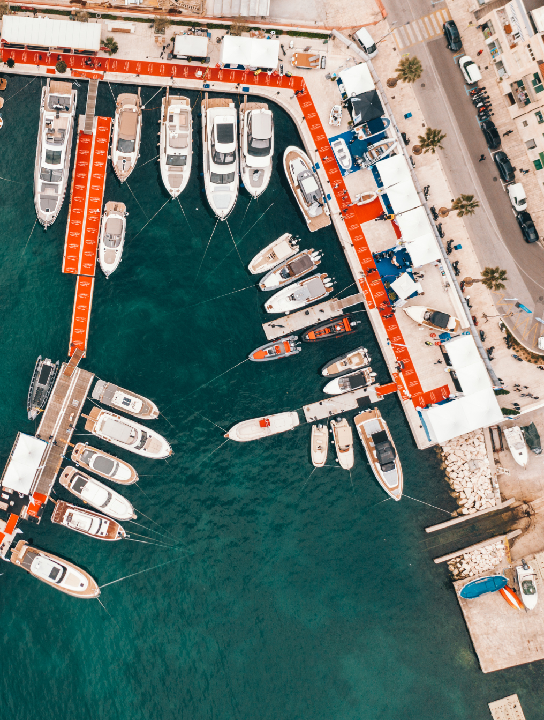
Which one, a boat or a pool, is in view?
boat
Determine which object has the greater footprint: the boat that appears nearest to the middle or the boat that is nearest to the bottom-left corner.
the boat that is nearest to the bottom-left corner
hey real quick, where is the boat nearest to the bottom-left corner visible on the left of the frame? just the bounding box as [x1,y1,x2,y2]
[12,540,101,601]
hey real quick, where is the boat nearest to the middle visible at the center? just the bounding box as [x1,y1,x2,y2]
[250,339,300,363]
